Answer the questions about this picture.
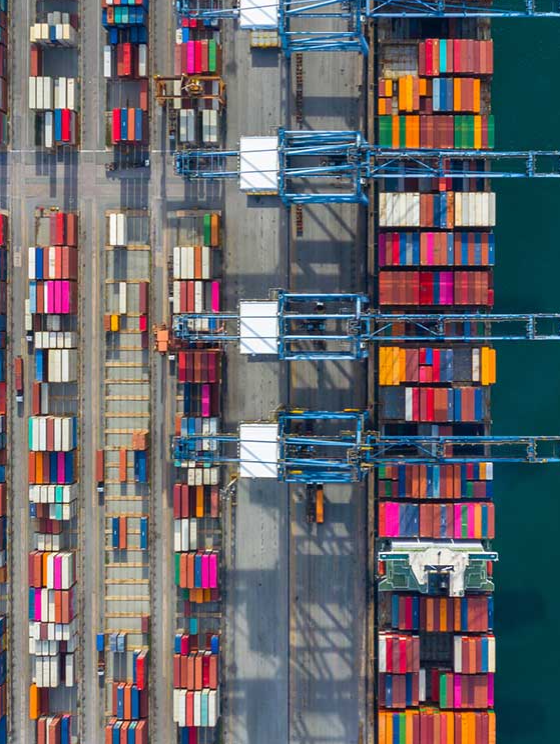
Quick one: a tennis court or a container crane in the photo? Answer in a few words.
container crane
